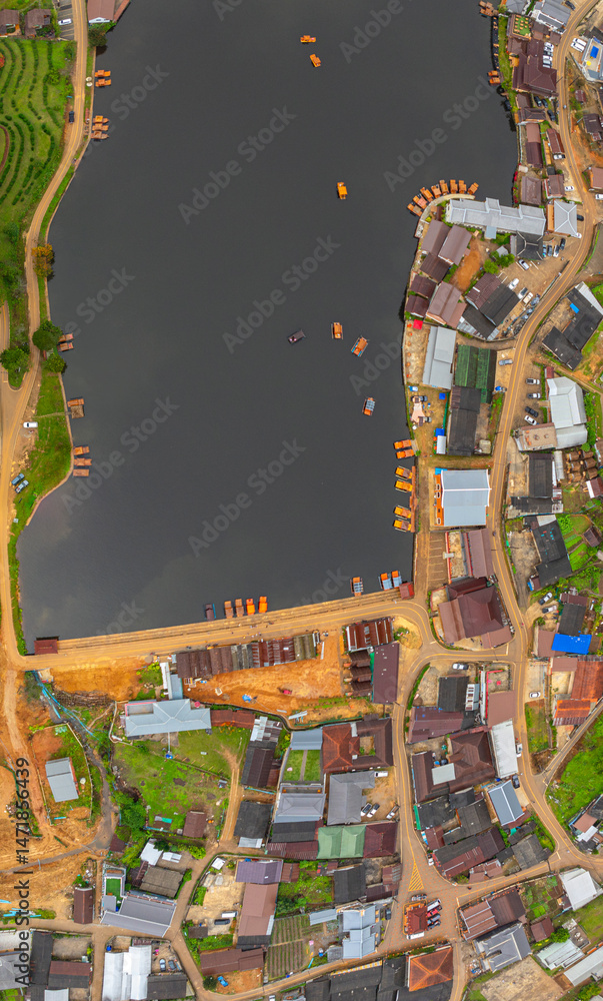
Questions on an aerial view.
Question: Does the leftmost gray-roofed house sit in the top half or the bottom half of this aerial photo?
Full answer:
The leftmost gray-roofed house sits in the bottom half of the picture.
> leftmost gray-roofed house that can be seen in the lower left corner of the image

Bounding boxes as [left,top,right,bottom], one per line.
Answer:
[0,948,30,991]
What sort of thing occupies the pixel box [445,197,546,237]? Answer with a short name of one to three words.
building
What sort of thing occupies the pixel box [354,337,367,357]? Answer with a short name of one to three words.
boat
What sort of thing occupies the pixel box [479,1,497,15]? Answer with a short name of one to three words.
boat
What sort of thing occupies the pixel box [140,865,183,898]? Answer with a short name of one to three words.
house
